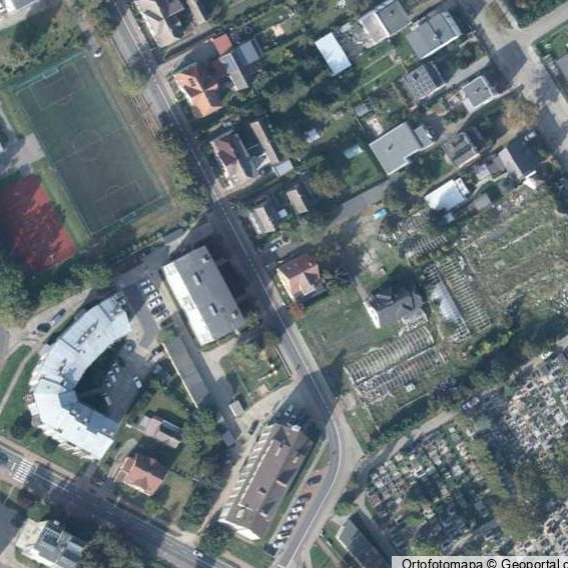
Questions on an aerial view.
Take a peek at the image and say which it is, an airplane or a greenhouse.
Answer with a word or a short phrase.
greenhouse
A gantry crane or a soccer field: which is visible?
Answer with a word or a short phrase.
soccer field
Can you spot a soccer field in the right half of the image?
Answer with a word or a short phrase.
No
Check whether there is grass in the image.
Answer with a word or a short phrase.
Yes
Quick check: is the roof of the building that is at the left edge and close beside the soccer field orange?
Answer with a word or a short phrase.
No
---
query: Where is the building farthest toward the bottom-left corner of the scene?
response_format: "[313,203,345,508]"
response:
[16,518,86,568]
